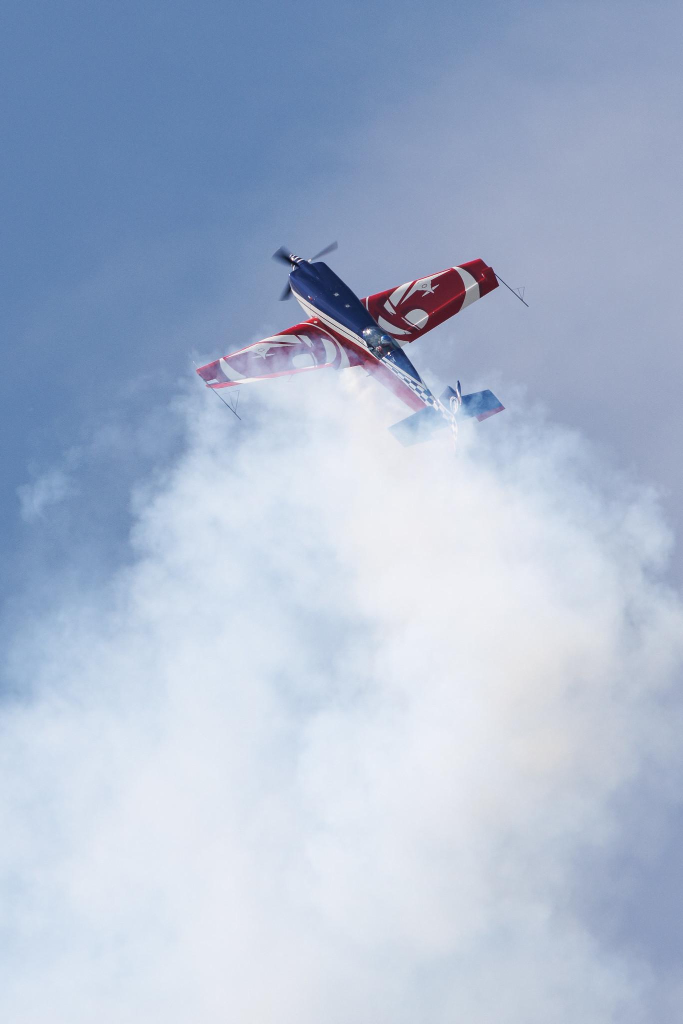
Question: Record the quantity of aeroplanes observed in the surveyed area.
one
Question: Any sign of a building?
No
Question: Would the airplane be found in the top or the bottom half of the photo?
top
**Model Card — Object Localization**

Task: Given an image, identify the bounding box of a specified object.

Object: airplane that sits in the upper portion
[190,239,526,454]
